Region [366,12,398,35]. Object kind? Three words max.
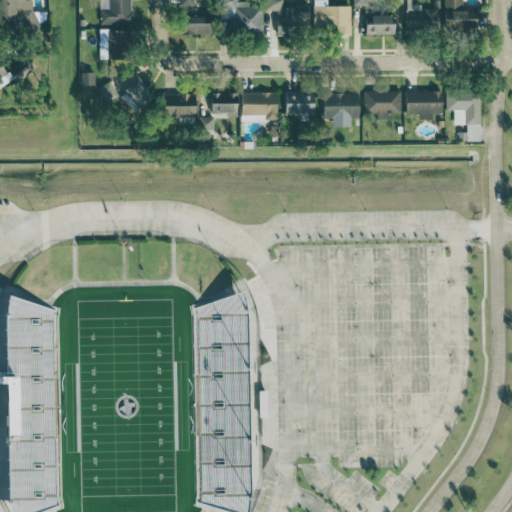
house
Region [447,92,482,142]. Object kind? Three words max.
house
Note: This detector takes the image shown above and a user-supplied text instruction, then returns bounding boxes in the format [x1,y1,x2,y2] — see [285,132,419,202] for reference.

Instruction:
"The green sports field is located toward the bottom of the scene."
[54,286,199,512]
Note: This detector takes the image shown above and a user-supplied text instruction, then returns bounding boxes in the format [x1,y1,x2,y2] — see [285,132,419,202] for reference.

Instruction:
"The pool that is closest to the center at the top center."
[242,122,267,142]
